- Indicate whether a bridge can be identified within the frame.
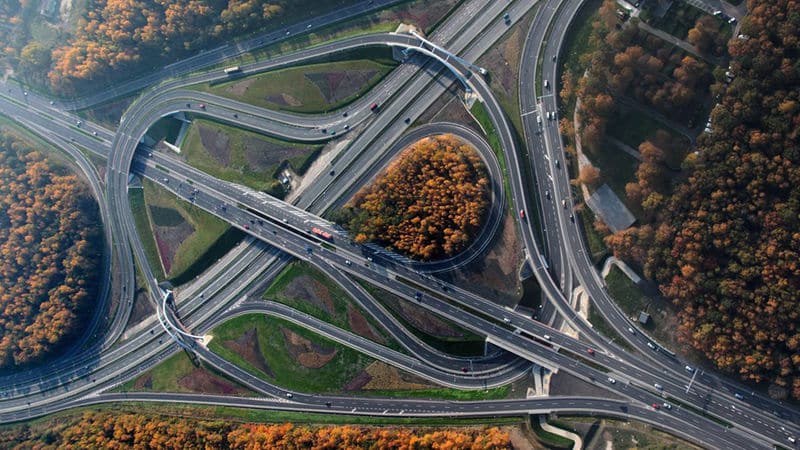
Yes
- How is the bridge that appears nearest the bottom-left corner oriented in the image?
diagonally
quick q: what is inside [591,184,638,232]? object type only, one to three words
building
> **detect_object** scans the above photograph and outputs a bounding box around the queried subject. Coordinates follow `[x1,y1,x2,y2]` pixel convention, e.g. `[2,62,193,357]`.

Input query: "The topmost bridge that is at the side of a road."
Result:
[388,28,488,95]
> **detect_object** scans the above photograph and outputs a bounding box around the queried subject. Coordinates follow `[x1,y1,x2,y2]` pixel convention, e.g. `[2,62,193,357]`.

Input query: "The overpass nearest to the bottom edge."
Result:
[522,394,555,415]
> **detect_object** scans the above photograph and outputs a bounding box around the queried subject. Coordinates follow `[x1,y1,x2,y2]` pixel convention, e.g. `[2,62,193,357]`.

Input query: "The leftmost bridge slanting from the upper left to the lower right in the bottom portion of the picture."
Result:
[152,292,212,359]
